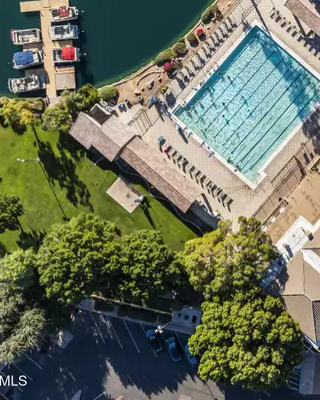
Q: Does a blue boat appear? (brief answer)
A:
Yes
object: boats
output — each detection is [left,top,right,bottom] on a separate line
[49,25,85,40]
[9,29,41,44]
[5,51,43,69]
[0,76,43,94]
[47,6,84,22]
[50,47,87,62]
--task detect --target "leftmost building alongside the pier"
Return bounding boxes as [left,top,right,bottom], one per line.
[69,113,140,161]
